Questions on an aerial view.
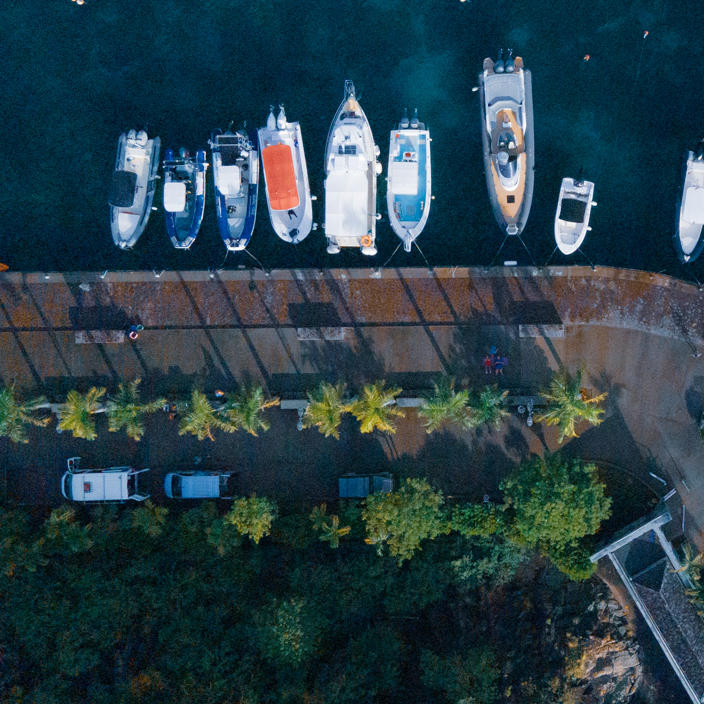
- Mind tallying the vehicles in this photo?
3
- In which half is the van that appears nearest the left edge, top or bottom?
bottom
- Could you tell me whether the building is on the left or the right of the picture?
right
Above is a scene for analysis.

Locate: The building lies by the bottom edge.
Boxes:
[590,503,704,704]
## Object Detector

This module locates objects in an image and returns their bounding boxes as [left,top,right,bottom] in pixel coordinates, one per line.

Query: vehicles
[339,472,394,499]
[62,452,154,504]
[165,470,239,500]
